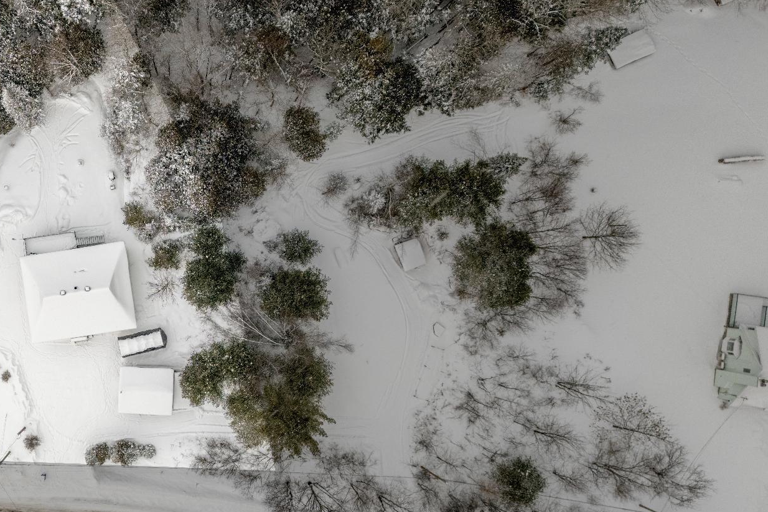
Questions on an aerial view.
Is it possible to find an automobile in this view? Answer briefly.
No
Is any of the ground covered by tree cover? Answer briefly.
Yes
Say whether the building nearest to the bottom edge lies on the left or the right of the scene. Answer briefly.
left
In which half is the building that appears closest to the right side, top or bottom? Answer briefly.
bottom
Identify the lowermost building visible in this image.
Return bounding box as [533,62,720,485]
[118,366,190,415]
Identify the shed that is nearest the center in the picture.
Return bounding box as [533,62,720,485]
[392,238,426,271]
